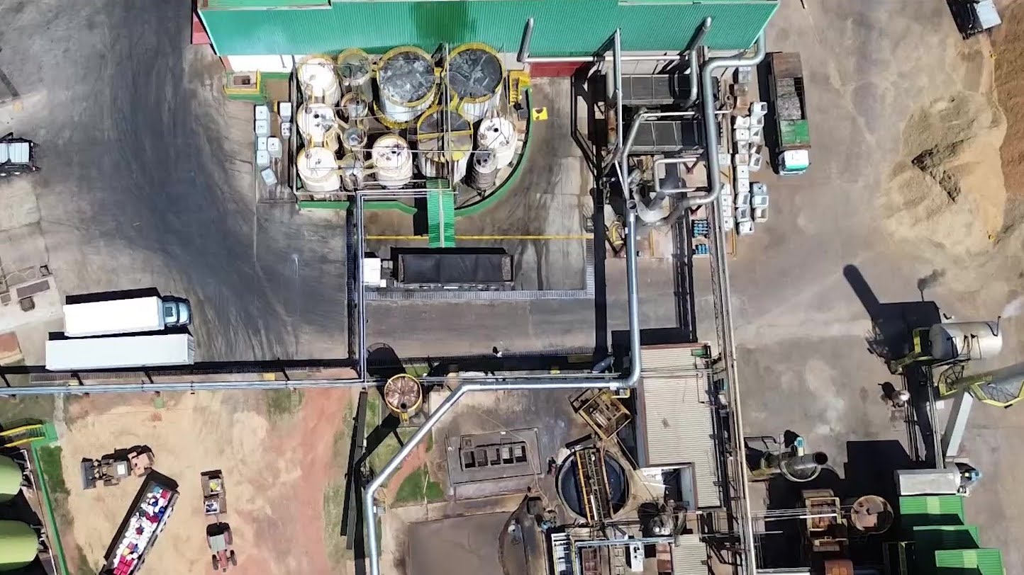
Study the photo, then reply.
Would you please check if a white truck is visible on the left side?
Yes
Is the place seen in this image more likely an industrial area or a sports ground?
industrial area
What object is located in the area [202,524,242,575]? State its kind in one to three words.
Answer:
work vehicle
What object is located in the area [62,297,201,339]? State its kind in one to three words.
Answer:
truck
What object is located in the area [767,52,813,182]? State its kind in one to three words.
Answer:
truck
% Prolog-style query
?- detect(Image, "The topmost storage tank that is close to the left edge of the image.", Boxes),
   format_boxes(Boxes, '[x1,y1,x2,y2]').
[0,452,37,495]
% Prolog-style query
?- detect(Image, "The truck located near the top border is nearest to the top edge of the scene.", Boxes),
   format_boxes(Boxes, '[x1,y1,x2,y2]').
[934,0,998,45]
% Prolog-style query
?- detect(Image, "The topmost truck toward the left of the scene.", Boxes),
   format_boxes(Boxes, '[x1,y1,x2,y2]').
[0,139,52,179]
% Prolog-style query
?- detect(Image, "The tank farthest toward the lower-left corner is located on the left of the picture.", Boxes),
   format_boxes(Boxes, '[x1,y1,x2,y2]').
[0,523,54,569]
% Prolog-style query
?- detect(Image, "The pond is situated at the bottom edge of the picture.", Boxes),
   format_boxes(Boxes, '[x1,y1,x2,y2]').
[406,504,522,575]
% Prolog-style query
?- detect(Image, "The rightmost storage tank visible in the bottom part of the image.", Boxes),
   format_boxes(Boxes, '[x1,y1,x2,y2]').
[892,312,1009,381]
